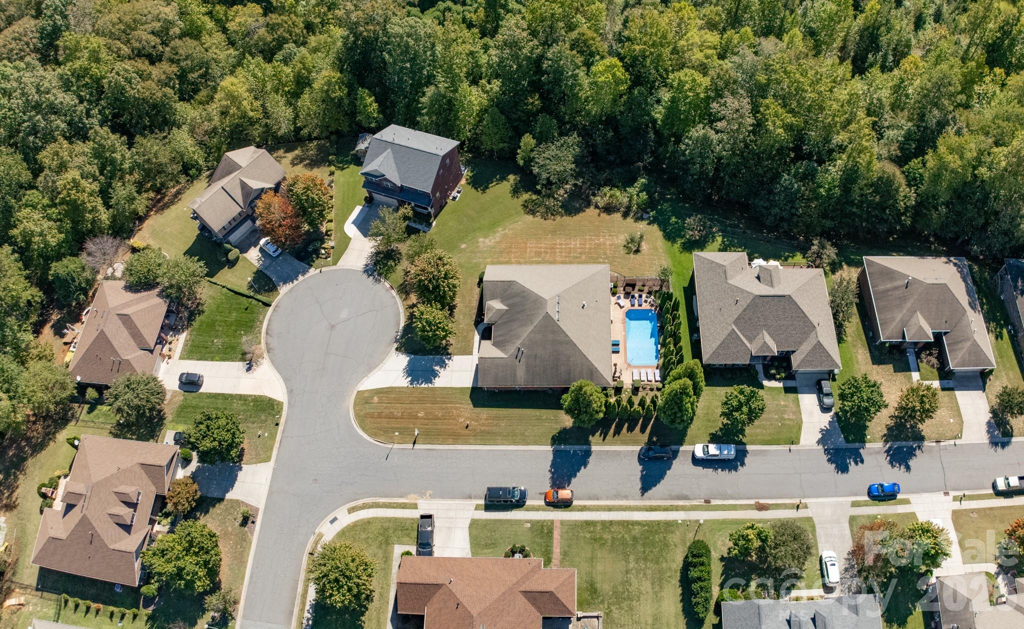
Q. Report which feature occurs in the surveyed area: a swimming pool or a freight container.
swimming pool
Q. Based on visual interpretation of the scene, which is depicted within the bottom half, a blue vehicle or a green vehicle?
blue vehicle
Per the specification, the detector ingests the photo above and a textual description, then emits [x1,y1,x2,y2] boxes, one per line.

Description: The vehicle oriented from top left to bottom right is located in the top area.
[258,237,283,258]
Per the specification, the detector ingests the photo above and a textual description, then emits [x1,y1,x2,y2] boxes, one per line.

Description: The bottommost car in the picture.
[820,550,841,586]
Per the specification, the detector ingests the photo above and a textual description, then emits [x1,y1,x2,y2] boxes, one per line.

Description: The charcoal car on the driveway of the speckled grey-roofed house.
[816,379,835,408]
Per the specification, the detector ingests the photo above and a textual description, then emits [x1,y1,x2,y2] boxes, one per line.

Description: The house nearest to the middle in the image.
[477,264,613,391]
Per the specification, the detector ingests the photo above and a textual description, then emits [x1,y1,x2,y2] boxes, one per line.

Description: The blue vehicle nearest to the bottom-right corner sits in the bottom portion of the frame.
[866,480,902,497]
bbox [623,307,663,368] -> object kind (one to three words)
swimming pool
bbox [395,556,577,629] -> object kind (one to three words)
house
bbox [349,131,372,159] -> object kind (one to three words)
gazebo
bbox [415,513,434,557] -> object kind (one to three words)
vehicle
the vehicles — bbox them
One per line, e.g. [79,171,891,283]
[639,443,672,460]
[820,550,841,586]
[866,480,902,497]
[258,237,283,258]
[992,473,1024,491]
[415,513,434,557]
[485,484,527,502]
[175,370,207,387]
[169,429,192,445]
[693,441,737,459]
[816,379,835,408]
[544,486,574,504]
